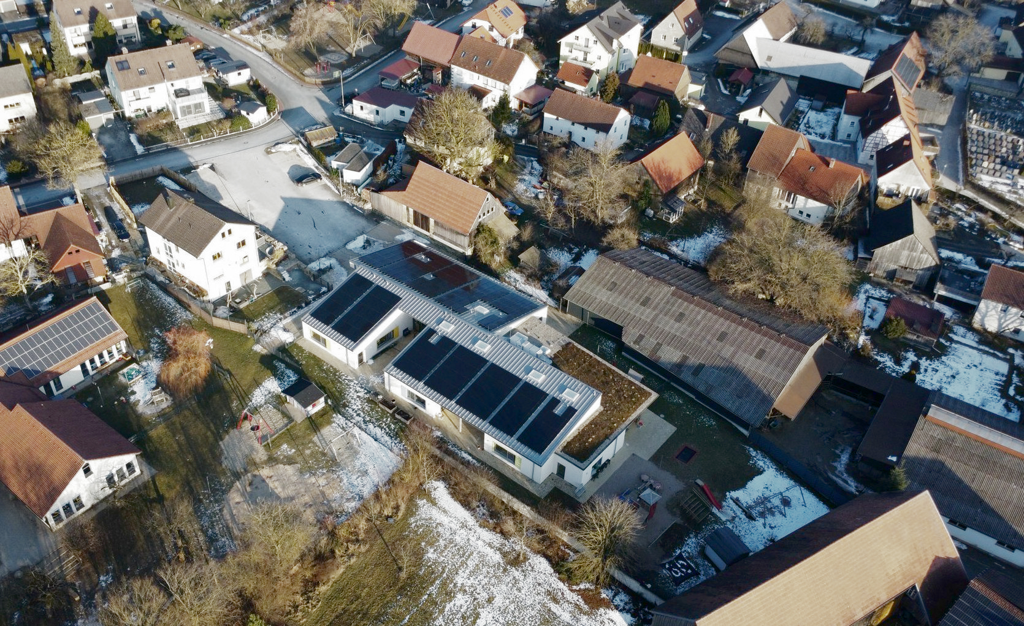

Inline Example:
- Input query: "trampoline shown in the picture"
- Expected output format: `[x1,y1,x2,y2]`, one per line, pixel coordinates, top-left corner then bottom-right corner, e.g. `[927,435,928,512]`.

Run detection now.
[675,445,697,464]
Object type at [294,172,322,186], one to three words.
car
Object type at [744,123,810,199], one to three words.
barn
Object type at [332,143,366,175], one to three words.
building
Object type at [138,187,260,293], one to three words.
house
